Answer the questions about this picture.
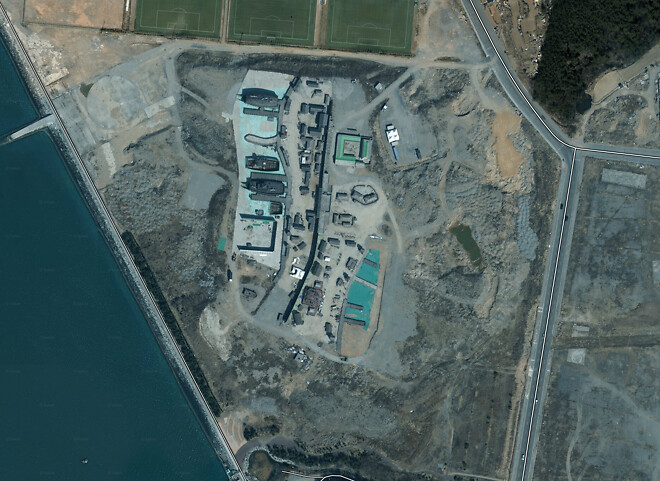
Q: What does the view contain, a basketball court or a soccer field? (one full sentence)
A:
Looking from above, you can make out a soccer field.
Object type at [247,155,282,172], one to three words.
ship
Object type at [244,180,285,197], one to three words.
ship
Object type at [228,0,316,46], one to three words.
soccer field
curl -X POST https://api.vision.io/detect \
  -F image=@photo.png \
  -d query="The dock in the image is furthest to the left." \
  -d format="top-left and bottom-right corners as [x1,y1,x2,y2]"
[0,115,53,146]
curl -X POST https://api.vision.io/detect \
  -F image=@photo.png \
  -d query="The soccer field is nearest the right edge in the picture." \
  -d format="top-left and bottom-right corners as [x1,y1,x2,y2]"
[325,0,414,54]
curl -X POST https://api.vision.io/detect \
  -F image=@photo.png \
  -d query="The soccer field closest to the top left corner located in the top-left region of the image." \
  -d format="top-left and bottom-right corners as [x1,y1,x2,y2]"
[134,0,222,39]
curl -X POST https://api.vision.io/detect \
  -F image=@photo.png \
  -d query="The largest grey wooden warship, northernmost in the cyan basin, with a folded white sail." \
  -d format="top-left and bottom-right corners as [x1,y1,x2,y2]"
[241,90,280,108]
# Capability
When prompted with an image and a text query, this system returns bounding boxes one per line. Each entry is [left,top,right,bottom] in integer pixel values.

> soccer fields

[228,0,316,46]
[325,0,414,54]
[134,0,222,39]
